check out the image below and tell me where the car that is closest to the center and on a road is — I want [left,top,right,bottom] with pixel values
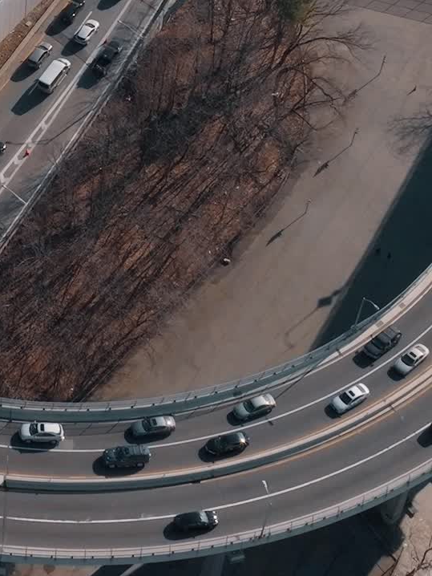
[230,393,278,422]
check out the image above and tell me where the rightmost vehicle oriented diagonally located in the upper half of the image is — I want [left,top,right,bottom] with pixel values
[89,41,122,77]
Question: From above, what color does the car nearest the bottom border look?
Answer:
black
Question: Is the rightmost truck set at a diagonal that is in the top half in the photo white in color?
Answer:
No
